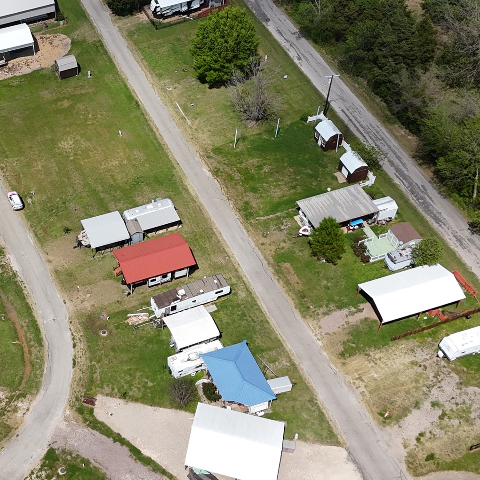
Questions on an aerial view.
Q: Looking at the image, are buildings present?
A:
Yes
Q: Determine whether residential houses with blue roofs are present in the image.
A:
Yes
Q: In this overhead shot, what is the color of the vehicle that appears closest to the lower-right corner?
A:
white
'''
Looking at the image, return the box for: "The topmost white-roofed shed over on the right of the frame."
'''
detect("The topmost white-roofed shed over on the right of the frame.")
[313,119,344,150]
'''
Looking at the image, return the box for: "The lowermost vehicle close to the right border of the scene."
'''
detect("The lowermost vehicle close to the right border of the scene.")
[431,326,480,363]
